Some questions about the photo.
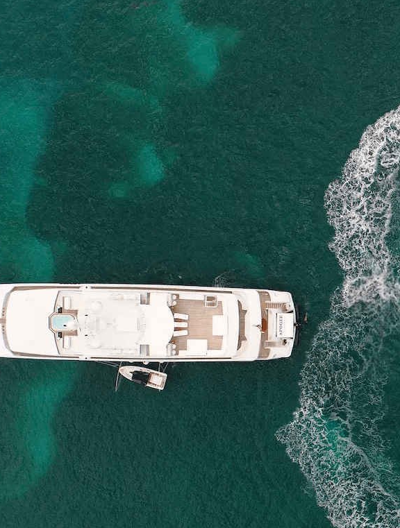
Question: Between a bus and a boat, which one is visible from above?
boat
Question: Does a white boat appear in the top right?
No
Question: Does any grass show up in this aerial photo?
No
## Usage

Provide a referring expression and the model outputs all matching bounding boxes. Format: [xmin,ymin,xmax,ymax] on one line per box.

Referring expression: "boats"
[0,283,307,392]
[119,365,167,394]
